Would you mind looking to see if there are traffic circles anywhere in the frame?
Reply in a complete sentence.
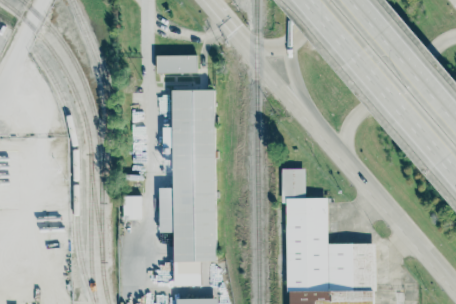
No, no traffic circle can be seen from above.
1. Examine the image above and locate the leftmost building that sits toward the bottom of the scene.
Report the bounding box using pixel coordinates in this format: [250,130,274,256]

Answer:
[124,196,143,221]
